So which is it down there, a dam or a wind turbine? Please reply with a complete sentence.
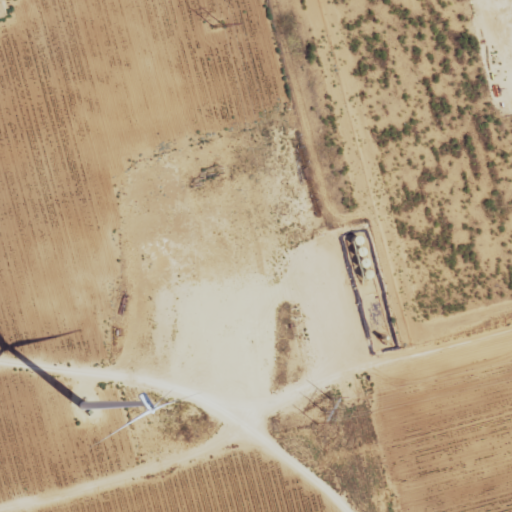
Looking from above, you can make out a wind turbine.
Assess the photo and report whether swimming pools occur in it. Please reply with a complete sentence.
No, there appears to be no swimming pool in this shot.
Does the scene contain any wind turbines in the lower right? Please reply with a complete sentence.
No, no wind turbine is visible in the lower right.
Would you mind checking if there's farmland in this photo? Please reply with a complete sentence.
Yes, there's farmland in this view.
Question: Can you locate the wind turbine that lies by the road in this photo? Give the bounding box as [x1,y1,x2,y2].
[78,388,198,442]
